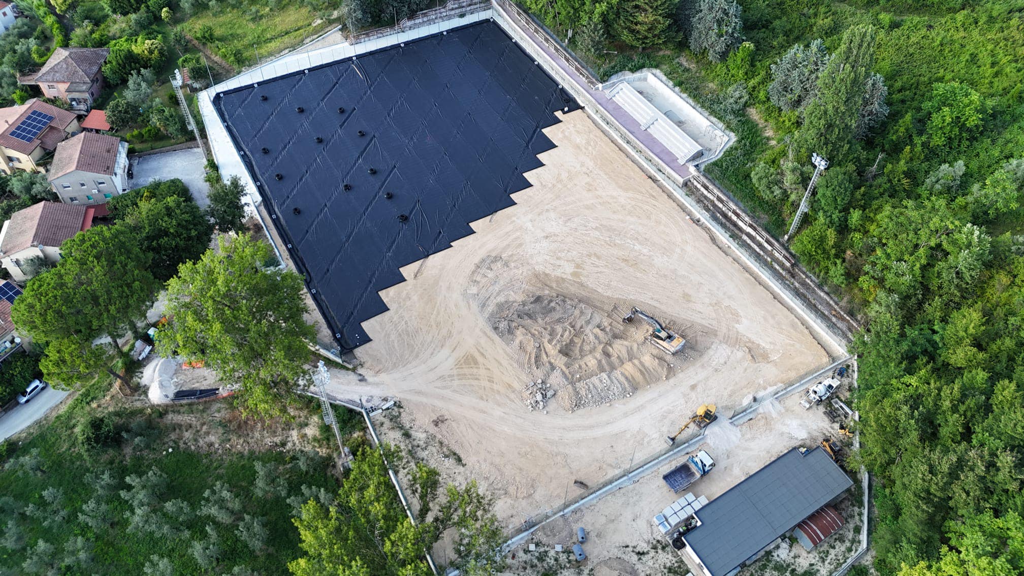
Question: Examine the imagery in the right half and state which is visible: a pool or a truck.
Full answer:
The feature located in the right half is a truck.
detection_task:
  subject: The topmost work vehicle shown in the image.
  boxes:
[623,302,680,351]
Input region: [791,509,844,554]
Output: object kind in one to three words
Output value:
shed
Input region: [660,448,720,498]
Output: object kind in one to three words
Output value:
truck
